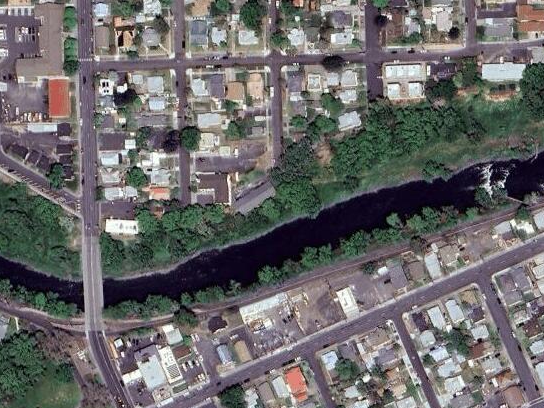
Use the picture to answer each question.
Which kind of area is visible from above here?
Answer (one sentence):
The area seen from above is a residential area.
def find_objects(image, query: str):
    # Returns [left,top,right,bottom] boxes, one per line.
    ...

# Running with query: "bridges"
[81,237,106,337]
